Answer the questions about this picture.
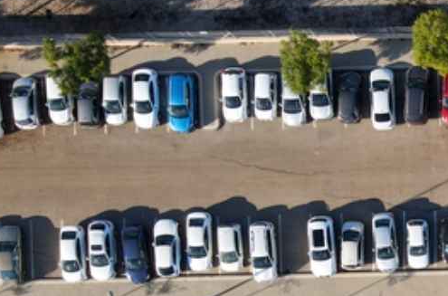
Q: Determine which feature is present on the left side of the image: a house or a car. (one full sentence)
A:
There is a car on the left side of the image.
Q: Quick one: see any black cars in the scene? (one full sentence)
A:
Yes, looking at the shot, I can spot a black car.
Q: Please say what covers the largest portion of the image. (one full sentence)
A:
Most of the picture is covered by paved ground.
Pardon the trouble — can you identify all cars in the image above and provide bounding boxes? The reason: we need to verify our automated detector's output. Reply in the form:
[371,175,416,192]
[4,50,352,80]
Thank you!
[252,73,278,121]
[308,73,334,119]
[45,73,74,124]
[279,72,307,125]
[75,81,102,124]
[166,71,195,133]
[404,220,430,268]
[151,219,182,276]
[307,215,335,277]
[99,75,130,125]
[373,212,399,272]
[440,68,448,123]
[58,225,87,281]
[403,67,429,124]
[368,69,395,129]
[335,70,362,122]
[339,221,364,269]
[249,222,278,282]
[132,68,160,128]
[122,225,151,283]
[220,67,248,122]
[216,224,243,273]
[87,220,117,280]
[185,211,213,271]
[11,77,41,129]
